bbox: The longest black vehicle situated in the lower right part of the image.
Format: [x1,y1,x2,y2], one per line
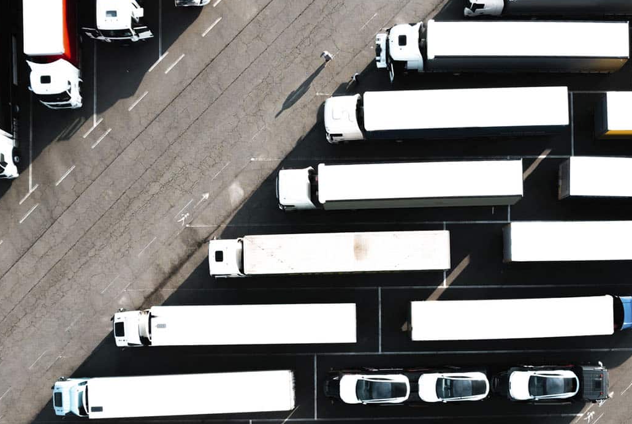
[329,357,611,406]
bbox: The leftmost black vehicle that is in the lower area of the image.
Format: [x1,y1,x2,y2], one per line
[324,375,347,402]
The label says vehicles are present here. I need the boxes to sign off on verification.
[340,372,409,404]
[207,231,452,283]
[86,0,159,46]
[324,86,568,145]
[408,295,632,340]
[418,371,487,403]
[0,0,22,180]
[324,375,347,402]
[503,221,632,264]
[557,156,632,206]
[279,159,523,214]
[24,0,86,109]
[458,0,632,20]
[593,91,632,144]
[55,369,300,422]
[116,303,359,350]
[378,18,630,87]
[329,357,611,406]
[508,368,577,400]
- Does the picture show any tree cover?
No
